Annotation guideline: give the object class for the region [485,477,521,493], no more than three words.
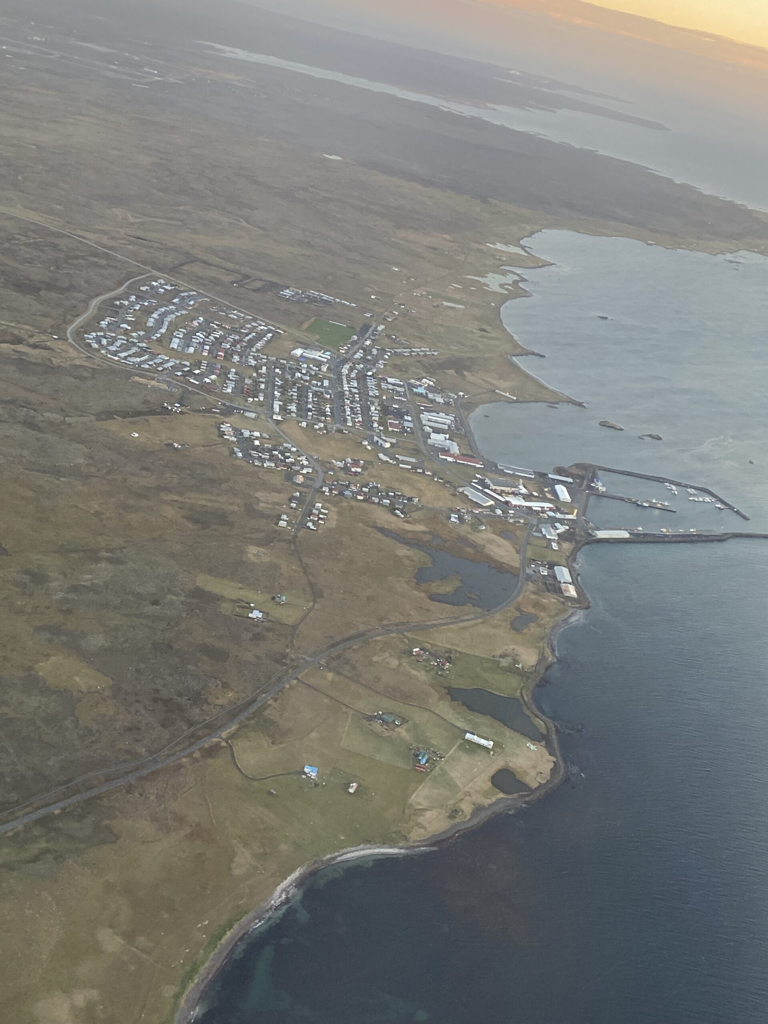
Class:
building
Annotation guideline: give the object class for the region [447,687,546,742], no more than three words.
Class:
pond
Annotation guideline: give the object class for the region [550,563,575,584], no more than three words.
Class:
building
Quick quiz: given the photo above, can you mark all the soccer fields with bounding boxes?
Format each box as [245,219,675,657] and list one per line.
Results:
[305,318,358,347]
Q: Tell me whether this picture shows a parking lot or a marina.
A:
marina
